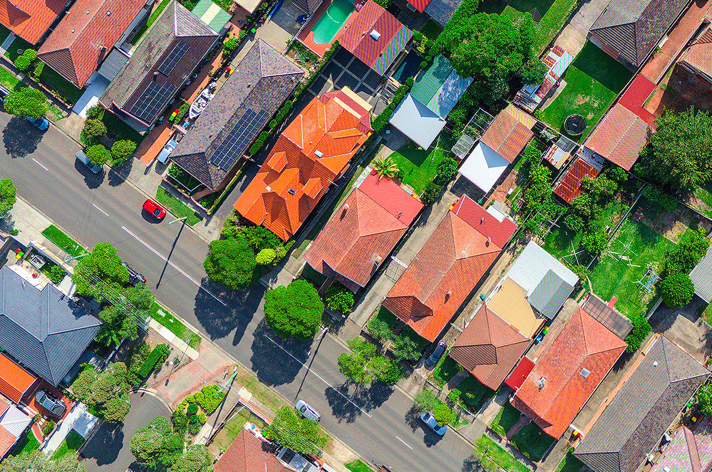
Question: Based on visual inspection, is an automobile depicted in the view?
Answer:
Yes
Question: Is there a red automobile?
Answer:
Yes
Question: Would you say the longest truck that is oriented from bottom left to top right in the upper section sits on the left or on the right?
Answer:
left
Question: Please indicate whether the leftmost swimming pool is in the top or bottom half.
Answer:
top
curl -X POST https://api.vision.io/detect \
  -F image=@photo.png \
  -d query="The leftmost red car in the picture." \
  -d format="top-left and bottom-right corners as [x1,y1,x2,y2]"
[140,196,169,221]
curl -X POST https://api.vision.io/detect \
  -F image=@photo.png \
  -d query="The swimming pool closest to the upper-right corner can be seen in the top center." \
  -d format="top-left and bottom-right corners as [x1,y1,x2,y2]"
[387,45,426,87]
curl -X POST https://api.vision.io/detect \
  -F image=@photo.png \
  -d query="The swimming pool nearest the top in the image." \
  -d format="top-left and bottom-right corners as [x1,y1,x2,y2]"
[310,0,357,47]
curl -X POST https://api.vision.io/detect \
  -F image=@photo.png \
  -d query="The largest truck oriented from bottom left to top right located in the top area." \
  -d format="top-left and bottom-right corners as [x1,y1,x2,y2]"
[151,134,183,170]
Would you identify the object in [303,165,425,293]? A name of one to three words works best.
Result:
house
